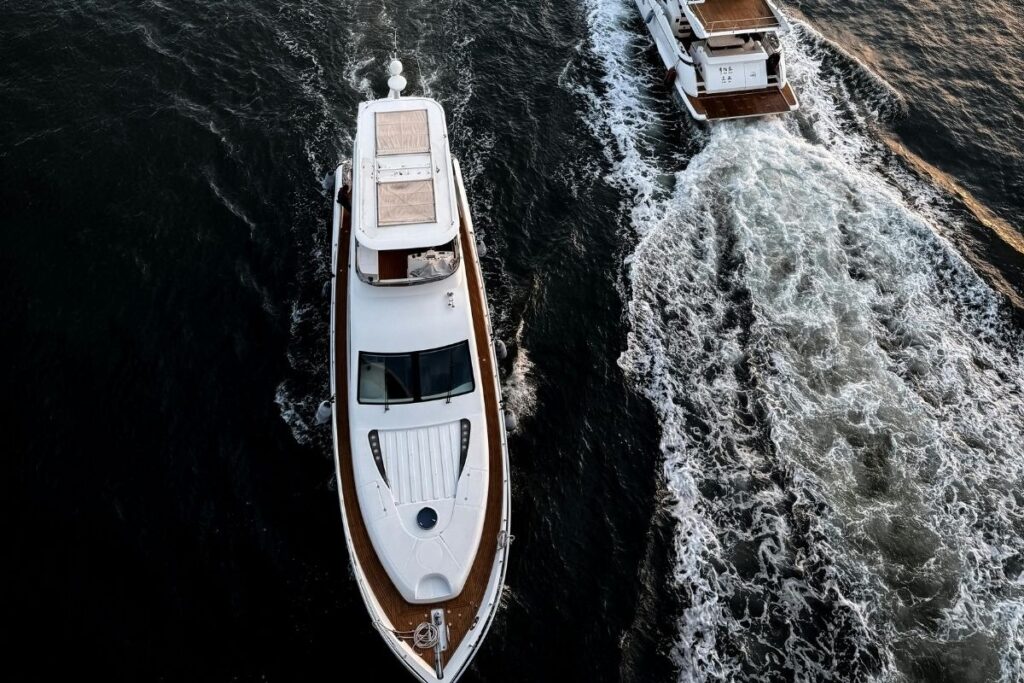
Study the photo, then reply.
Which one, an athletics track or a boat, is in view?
boat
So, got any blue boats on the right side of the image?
No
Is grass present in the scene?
No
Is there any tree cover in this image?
No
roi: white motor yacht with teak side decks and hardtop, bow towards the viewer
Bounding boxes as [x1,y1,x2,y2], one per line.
[332,30,513,683]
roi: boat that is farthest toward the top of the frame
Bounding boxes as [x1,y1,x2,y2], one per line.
[630,0,799,122]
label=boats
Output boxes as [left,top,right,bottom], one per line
[630,0,799,122]
[332,30,513,683]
